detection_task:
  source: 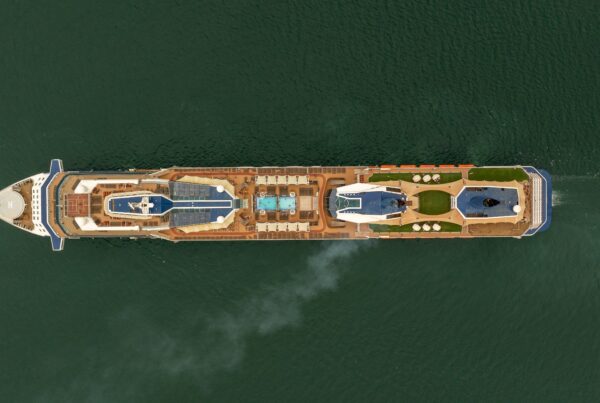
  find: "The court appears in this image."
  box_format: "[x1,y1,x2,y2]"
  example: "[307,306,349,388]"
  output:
[63,193,90,217]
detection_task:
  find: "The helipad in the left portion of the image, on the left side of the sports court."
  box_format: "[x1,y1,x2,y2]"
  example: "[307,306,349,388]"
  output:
[0,190,25,218]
